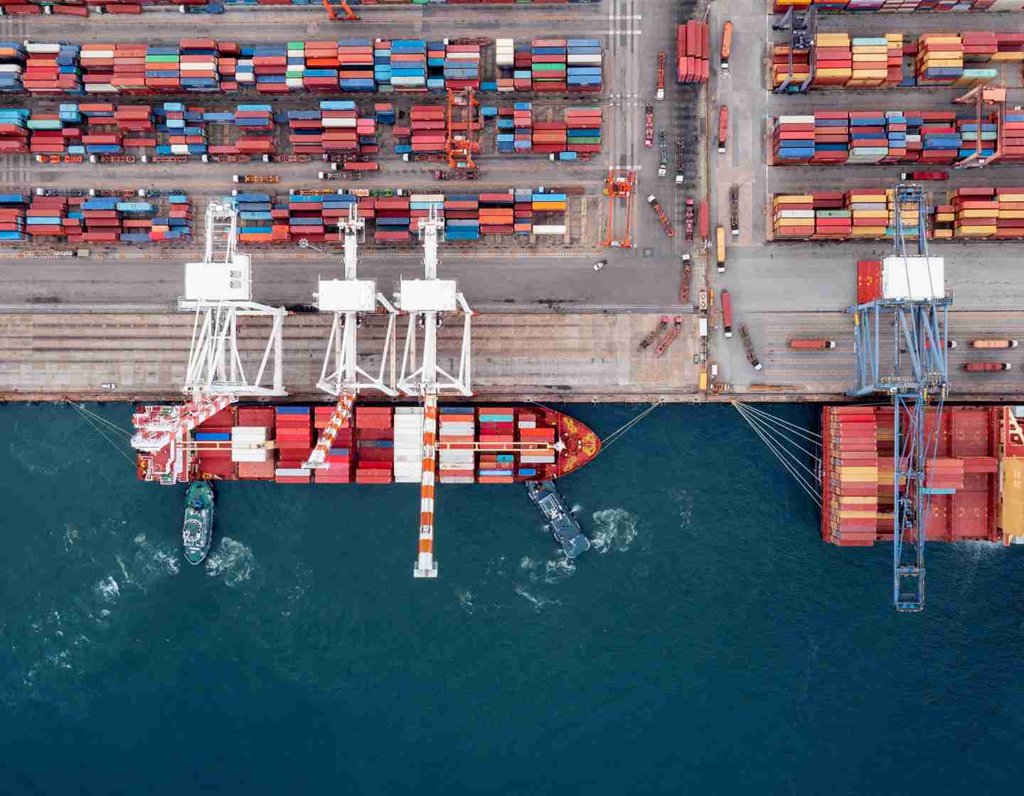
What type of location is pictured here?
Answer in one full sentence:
This looks like a port.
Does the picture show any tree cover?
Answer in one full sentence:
No, tree cover can't be seen anywhere here.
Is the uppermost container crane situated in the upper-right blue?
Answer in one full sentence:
No, the color of the uppermost container crane situated in the upper-right is gray.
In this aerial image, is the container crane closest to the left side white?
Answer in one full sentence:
Yes, the container crane closest to the left side is indeed white.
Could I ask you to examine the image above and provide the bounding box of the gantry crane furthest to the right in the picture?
[942,78,1005,168]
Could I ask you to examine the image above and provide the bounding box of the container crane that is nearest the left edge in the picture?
[130,203,299,456]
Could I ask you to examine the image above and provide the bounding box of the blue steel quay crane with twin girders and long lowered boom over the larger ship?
[831,186,955,610]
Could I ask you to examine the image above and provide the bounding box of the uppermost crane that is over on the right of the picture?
[766,3,817,91]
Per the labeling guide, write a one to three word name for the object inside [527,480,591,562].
boat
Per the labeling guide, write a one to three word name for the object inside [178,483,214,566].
boat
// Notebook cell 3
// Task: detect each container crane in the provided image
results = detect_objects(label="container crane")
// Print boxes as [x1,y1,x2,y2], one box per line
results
[298,201,411,471]
[130,203,299,456]
[396,201,485,576]
[942,78,1005,168]
[766,3,817,91]
[831,186,955,610]
[603,167,637,245]
[445,84,484,167]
